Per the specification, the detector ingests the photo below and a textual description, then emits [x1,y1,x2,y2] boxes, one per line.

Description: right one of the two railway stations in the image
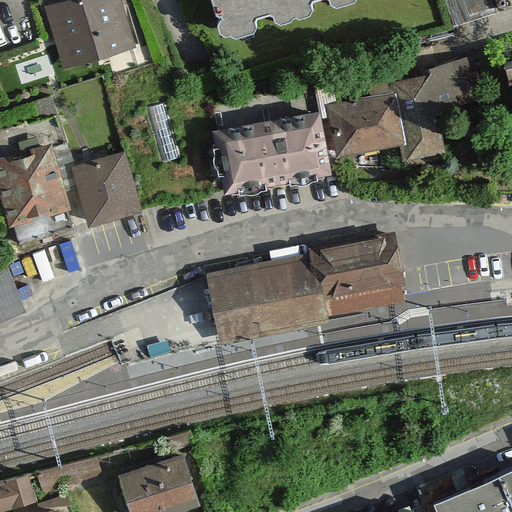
[312,232,406,299]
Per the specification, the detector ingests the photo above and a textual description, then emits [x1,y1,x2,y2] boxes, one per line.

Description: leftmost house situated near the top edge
[44,0,136,70]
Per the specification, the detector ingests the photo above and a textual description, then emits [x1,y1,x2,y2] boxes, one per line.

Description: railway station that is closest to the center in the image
[207,250,328,344]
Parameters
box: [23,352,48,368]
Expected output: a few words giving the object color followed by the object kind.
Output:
white vehicle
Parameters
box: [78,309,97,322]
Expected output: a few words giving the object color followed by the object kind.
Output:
white vehicle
